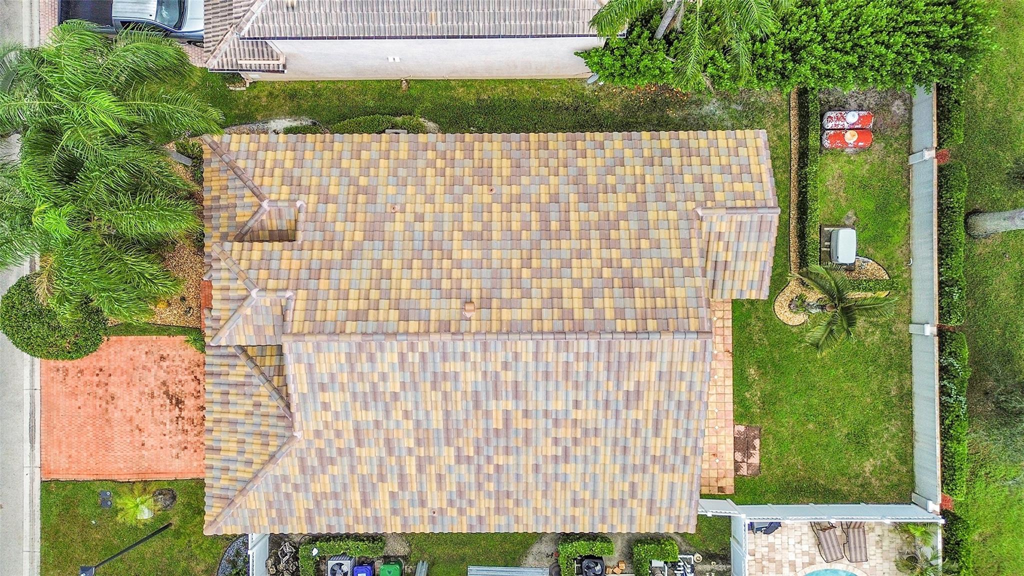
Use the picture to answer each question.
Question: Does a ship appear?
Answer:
No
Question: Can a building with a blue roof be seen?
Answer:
No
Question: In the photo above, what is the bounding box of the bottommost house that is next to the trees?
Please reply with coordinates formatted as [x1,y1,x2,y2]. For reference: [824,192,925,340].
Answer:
[199,129,782,537]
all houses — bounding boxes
[199,129,782,537]
[198,0,626,94]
